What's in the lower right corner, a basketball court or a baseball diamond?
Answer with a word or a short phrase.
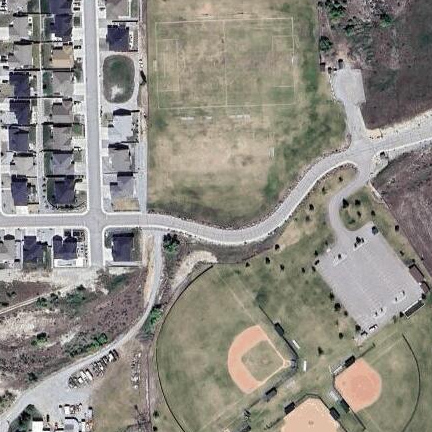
baseball diamond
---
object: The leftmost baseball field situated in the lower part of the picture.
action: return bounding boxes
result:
[227,325,290,394]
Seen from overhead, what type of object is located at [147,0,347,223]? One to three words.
soccer field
